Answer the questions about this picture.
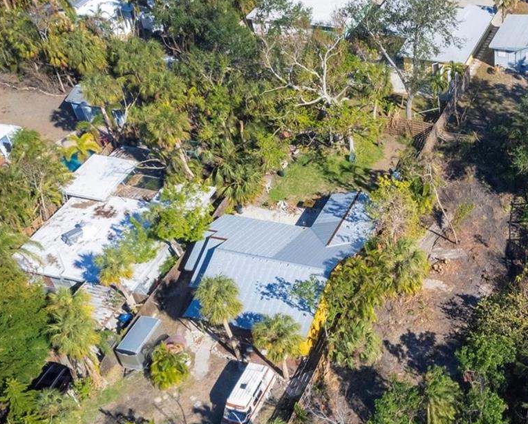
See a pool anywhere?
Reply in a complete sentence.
Yes, this view includes a pool.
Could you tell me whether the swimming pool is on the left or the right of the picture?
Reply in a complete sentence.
You can find the swimming pool on the left side of the picture.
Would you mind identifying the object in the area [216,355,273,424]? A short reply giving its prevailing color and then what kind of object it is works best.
white camper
